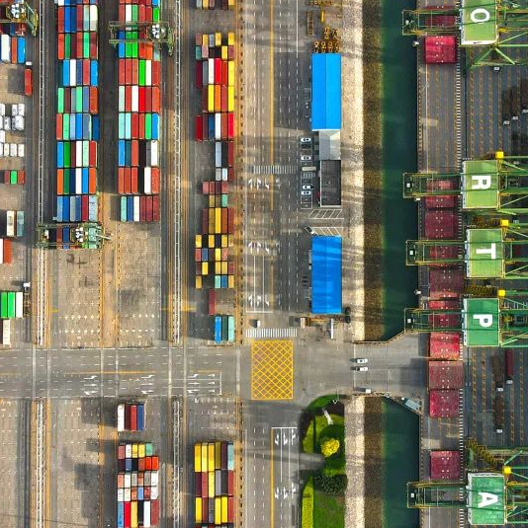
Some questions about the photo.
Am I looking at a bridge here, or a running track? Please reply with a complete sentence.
There is a bridge in the scene.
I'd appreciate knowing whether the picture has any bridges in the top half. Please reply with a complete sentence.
No, I can find no bridge in the top half.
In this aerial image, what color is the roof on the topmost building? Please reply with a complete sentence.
From above, the roof of the topmost building looks blue.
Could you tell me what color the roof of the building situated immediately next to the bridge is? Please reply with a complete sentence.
The color of the roof on the building situated immediately next to the bridge is blue.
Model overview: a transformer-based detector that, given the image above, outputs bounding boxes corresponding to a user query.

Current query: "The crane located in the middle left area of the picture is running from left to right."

[39,222,117,250]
